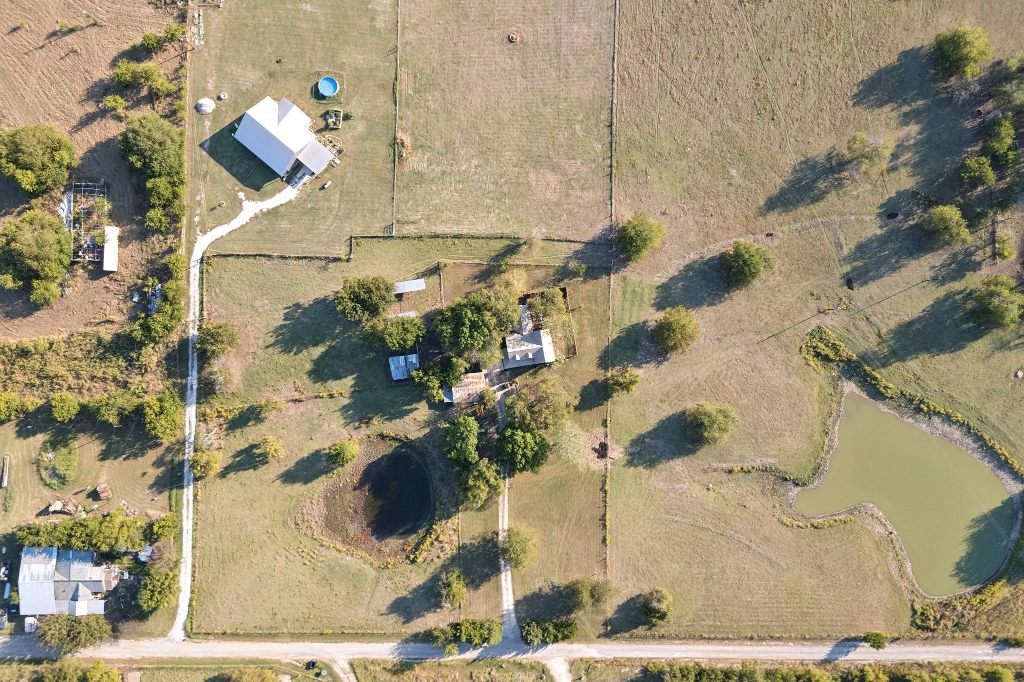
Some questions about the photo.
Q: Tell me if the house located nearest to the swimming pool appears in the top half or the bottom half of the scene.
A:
top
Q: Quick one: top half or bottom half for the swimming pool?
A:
top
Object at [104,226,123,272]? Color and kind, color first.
white trailer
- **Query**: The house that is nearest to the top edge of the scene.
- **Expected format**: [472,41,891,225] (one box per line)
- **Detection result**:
[234,96,336,179]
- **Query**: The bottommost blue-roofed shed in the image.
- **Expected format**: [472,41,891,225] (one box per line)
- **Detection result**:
[389,354,420,380]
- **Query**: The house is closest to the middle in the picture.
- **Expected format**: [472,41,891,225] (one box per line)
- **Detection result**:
[482,304,555,373]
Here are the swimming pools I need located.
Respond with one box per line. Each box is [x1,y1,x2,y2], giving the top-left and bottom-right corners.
[317,76,339,99]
